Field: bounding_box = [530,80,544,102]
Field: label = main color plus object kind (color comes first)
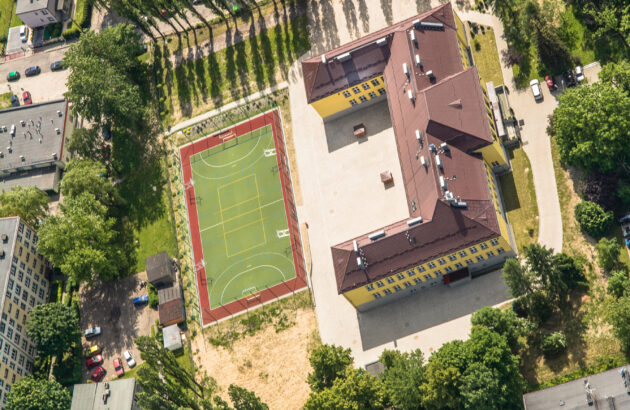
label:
white vehicle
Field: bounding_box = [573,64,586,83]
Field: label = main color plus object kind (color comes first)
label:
white vehicle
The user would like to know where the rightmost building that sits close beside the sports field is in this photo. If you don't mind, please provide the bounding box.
[301,2,519,314]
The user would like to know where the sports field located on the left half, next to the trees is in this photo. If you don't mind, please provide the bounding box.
[179,107,310,328]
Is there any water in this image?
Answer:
No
